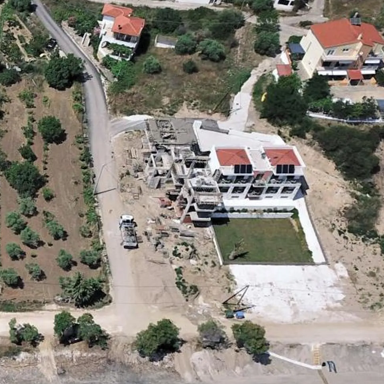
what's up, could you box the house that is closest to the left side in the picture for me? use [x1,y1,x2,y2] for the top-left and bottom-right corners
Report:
[100,6,144,68]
